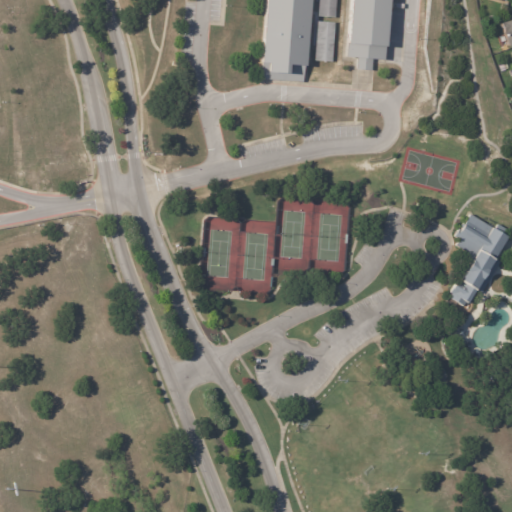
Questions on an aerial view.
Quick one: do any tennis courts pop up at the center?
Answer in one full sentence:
Yes, a tennis court appears at the center.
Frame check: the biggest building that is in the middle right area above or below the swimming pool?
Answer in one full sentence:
The biggest building that is in the middle right area is above the swimming pool.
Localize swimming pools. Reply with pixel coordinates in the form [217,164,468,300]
[467,301,512,354]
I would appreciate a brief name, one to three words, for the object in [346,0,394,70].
building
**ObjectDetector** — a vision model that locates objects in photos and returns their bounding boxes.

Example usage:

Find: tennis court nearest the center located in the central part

[236,220,276,292]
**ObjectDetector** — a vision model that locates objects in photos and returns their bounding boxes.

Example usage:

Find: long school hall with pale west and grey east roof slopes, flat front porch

[262,0,314,82]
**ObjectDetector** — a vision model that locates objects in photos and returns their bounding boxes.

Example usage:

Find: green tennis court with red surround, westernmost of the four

[200,218,240,290]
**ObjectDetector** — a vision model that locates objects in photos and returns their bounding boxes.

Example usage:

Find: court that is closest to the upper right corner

[400,148,460,193]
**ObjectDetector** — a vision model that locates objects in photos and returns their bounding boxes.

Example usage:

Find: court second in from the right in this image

[310,204,350,272]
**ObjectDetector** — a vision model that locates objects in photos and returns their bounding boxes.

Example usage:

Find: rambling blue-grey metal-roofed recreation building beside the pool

[450,212,509,306]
